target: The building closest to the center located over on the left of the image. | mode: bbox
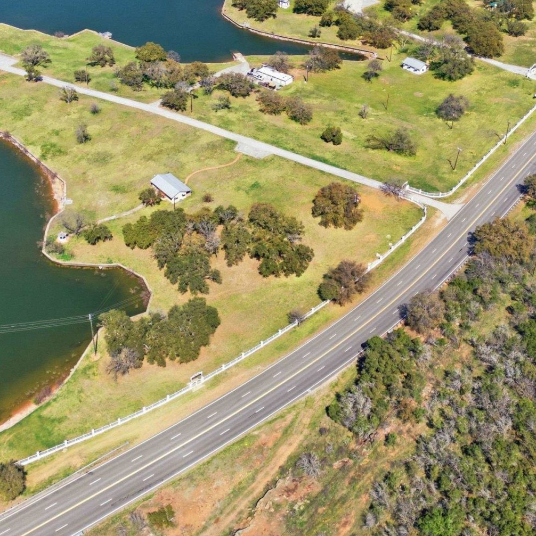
[151,175,192,206]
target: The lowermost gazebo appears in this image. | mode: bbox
[54,229,69,243]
